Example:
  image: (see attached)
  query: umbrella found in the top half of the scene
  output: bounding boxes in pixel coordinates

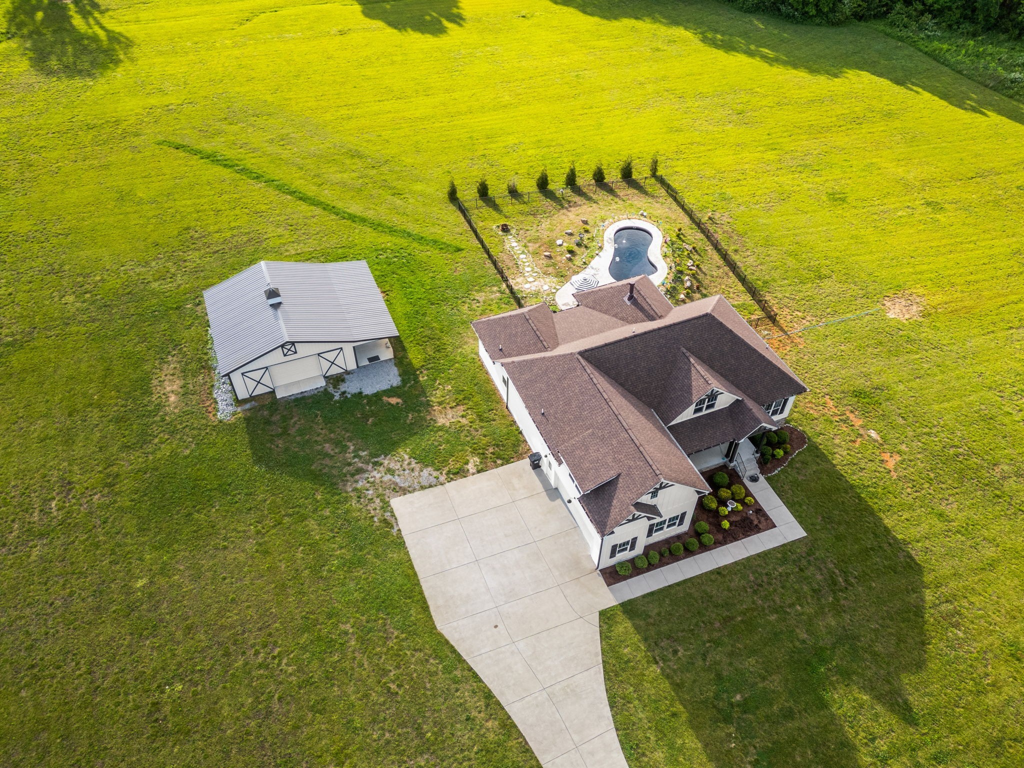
[570,273,599,290]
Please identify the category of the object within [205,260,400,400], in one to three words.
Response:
barn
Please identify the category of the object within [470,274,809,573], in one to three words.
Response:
house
